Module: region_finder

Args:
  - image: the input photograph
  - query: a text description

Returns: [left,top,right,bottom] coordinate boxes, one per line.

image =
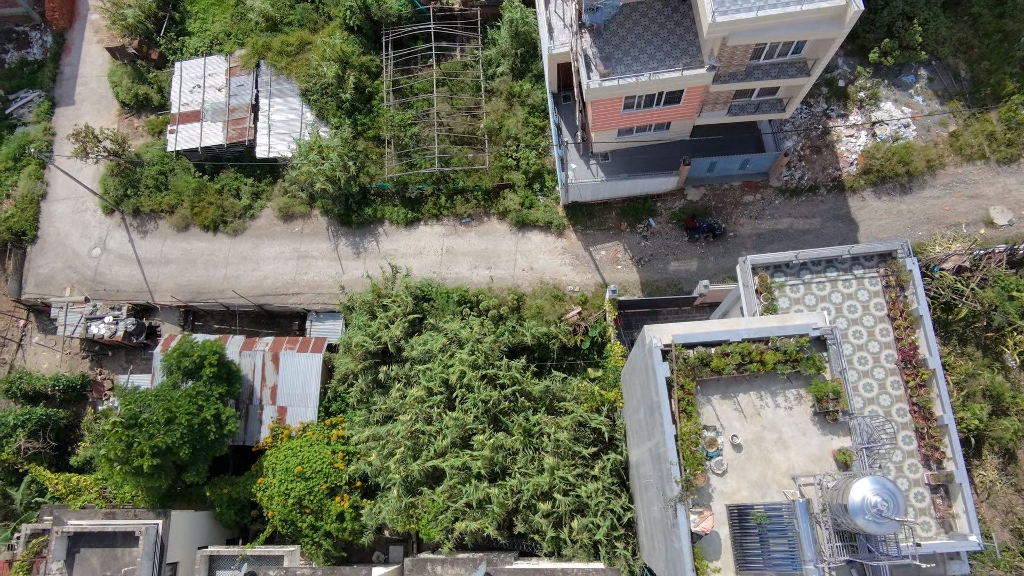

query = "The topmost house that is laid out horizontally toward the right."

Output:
[538,0,862,151]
